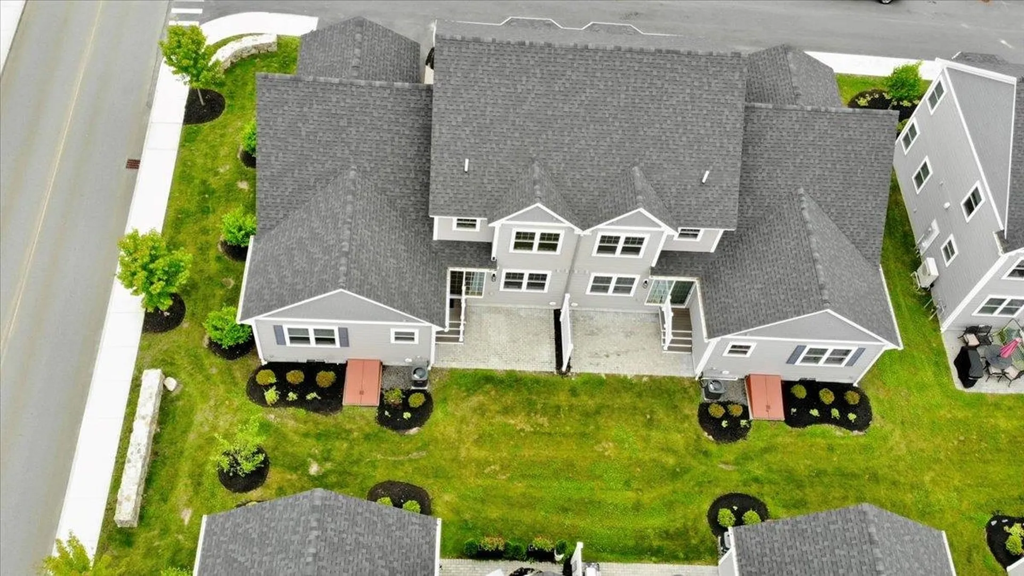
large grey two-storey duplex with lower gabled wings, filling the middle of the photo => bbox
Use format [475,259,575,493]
[234,16,905,384]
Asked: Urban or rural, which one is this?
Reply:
urban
